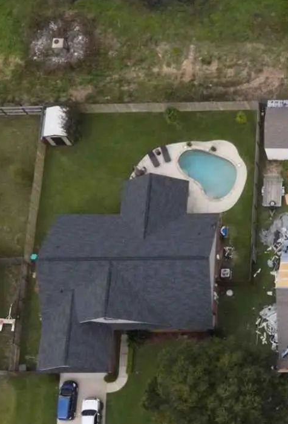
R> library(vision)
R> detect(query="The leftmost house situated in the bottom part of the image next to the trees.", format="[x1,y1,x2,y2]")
[37,174,222,373]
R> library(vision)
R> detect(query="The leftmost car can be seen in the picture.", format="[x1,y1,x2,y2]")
[52,380,78,422]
